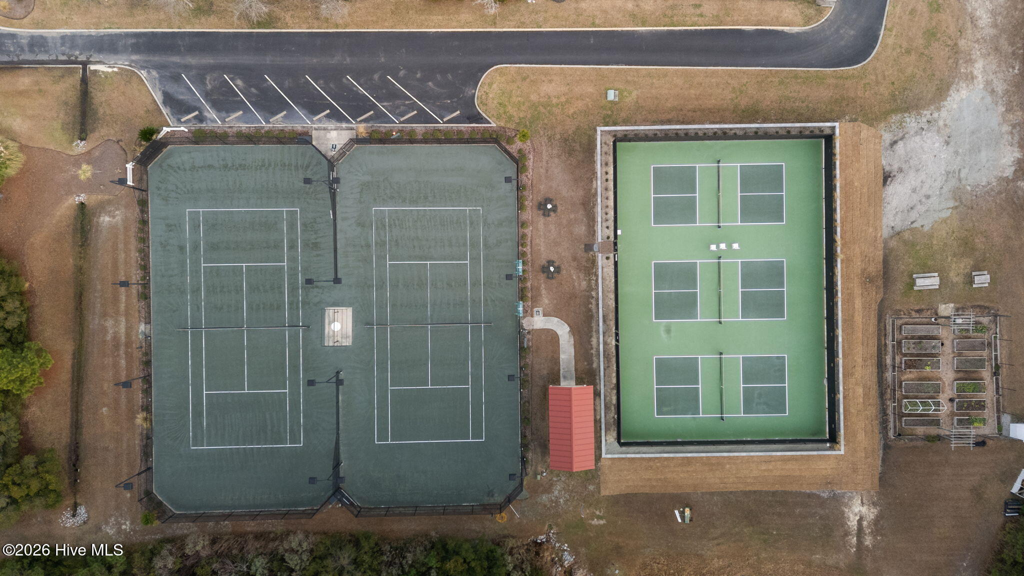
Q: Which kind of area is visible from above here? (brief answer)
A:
sports ground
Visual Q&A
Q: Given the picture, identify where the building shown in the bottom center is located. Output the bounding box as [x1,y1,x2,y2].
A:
[548,382,594,472]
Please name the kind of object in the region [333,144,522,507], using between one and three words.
tennis court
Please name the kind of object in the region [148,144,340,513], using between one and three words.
tennis court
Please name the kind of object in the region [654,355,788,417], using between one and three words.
sports court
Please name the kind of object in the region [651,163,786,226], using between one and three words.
sports court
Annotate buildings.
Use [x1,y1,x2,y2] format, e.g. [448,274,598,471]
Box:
[548,382,594,472]
[1005,414,1024,437]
